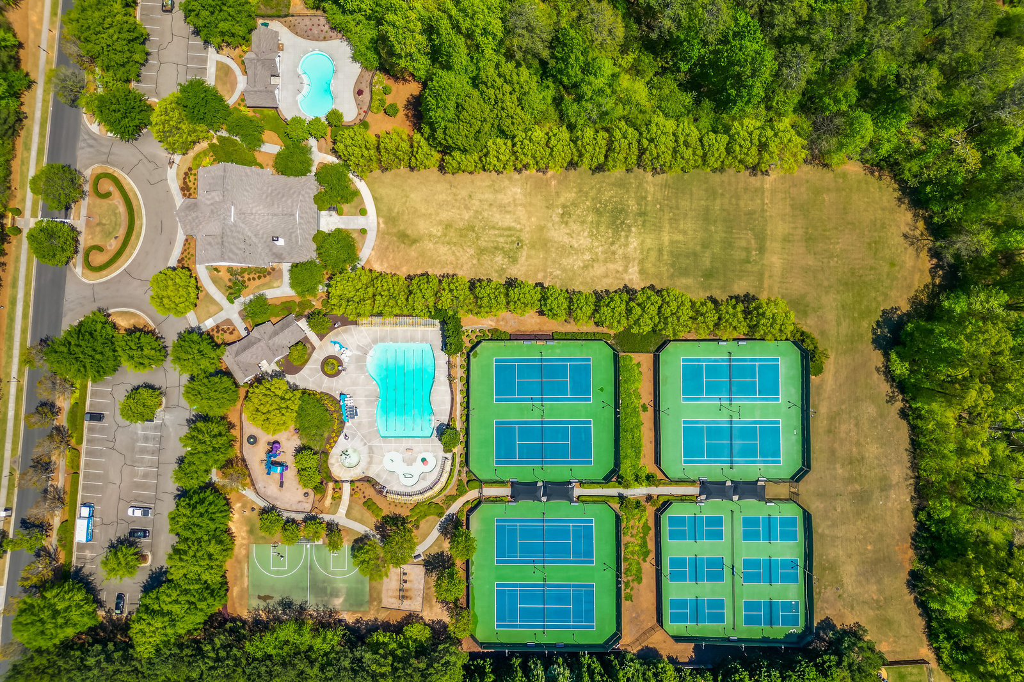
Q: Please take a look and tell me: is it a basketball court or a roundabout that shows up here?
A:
basketball court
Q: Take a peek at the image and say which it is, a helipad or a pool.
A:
pool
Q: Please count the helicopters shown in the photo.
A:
zero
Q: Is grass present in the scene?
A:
Yes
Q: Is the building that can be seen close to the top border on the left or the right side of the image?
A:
left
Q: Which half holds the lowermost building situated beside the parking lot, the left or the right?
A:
left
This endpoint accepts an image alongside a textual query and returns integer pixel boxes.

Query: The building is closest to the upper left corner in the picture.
[243,25,284,110]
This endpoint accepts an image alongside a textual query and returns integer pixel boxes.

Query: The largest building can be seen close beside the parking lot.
[175,162,321,268]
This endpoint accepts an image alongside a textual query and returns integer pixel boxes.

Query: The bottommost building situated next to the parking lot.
[222,313,308,385]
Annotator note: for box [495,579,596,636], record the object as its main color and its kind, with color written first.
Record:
blue tennis court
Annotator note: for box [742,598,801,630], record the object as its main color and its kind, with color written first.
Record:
blue sports court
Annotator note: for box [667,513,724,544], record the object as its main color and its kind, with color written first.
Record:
blue sports court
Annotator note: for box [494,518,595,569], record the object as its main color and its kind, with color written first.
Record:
blue tennis court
